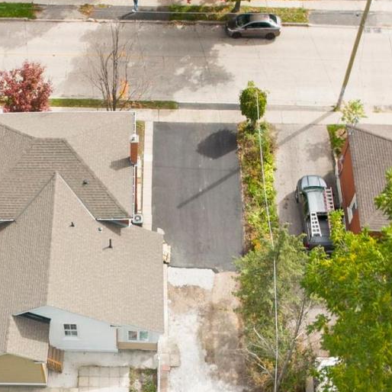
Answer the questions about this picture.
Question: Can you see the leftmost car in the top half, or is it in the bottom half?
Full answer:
The top half of the photo is where the leftmost car is.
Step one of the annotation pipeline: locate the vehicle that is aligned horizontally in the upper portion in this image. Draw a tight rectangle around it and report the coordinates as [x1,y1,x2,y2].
[224,17,282,42]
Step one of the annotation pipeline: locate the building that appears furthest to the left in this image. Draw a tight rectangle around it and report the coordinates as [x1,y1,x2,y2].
[0,111,166,387]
